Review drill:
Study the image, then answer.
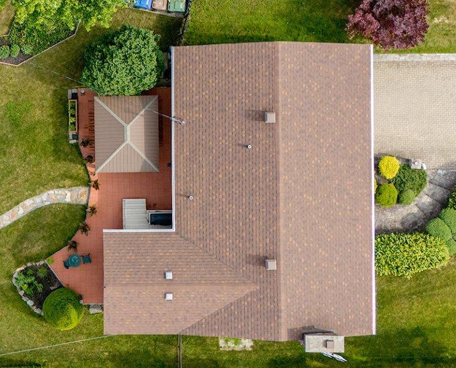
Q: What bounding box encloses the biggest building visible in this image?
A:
[104,43,377,353]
